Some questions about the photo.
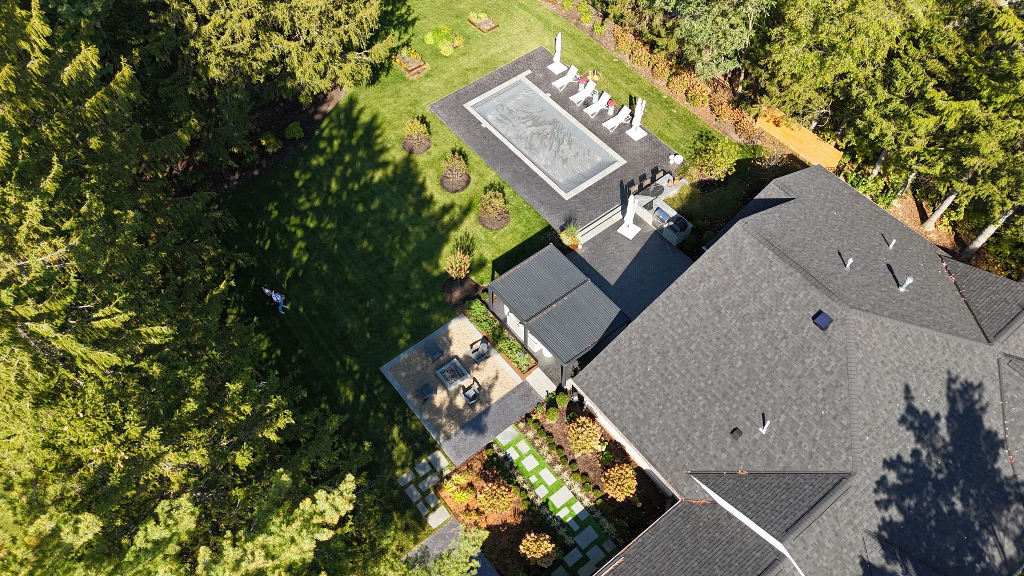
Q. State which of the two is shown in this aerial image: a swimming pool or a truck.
swimming pool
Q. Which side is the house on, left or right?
right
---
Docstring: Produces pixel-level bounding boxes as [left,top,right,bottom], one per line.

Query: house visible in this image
[567,161,1024,576]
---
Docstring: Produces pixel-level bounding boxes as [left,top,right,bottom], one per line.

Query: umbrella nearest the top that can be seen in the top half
[546,32,568,75]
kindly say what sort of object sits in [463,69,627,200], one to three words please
swimming pool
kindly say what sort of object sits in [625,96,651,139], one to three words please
umbrella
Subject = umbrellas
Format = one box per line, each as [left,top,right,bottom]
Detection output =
[617,195,645,238]
[546,32,568,75]
[625,96,651,139]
